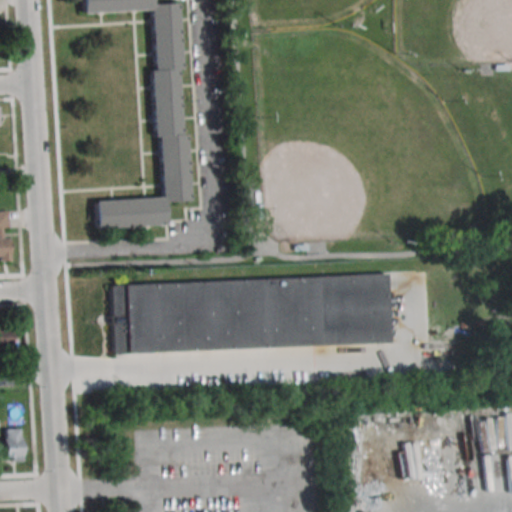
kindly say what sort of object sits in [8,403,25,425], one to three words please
swimming pool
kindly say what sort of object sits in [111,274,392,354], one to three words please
building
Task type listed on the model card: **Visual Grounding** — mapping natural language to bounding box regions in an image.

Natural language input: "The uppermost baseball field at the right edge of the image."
[396,0,512,66]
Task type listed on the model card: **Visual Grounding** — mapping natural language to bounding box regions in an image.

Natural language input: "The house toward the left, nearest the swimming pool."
[6,428,28,462]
